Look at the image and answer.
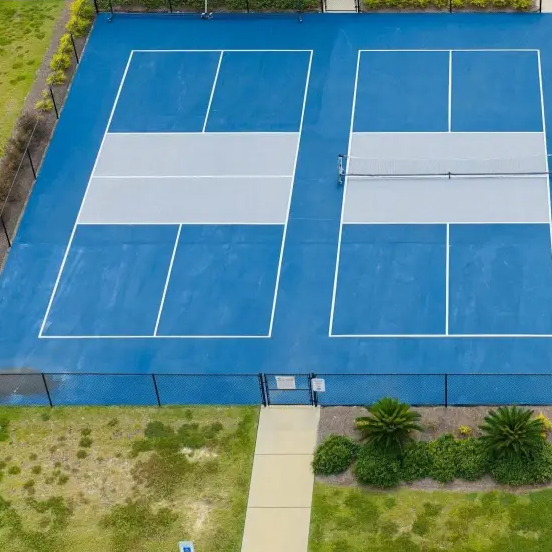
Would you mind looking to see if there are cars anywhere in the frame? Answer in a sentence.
No, I can see no car in this picture.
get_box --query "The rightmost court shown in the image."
[329,50,552,337]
